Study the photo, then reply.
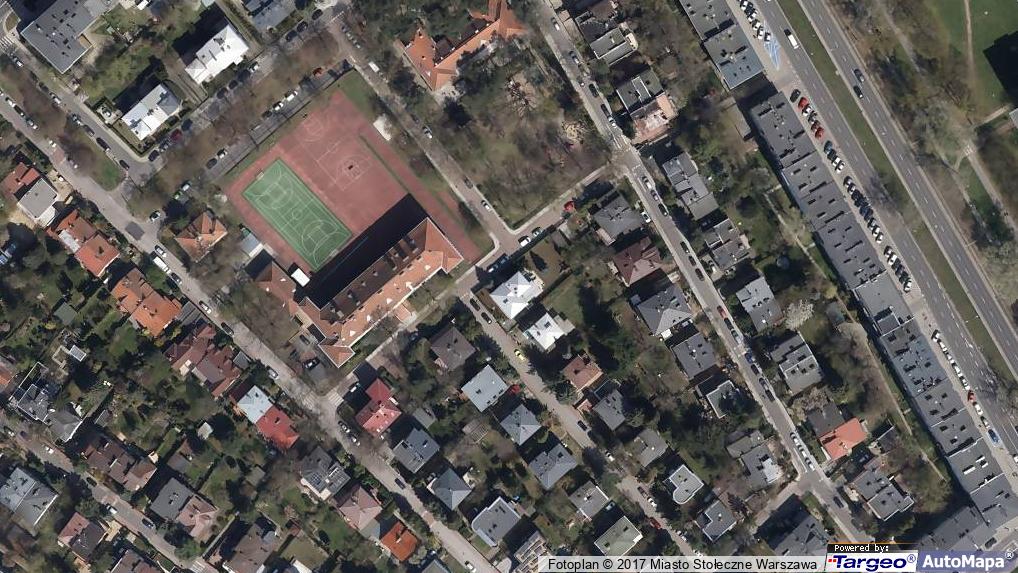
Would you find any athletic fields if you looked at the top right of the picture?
No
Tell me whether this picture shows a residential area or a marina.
residential area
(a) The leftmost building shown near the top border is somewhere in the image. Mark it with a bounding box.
[21,0,120,76]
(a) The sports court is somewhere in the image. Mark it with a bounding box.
[242,159,352,272]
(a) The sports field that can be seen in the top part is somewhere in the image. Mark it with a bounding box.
[229,92,479,308]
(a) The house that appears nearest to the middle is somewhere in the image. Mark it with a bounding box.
[490,269,544,318]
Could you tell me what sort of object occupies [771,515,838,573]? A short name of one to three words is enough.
building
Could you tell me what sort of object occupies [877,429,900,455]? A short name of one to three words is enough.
building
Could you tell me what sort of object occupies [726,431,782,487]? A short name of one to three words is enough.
house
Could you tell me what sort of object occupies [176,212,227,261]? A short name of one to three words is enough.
house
